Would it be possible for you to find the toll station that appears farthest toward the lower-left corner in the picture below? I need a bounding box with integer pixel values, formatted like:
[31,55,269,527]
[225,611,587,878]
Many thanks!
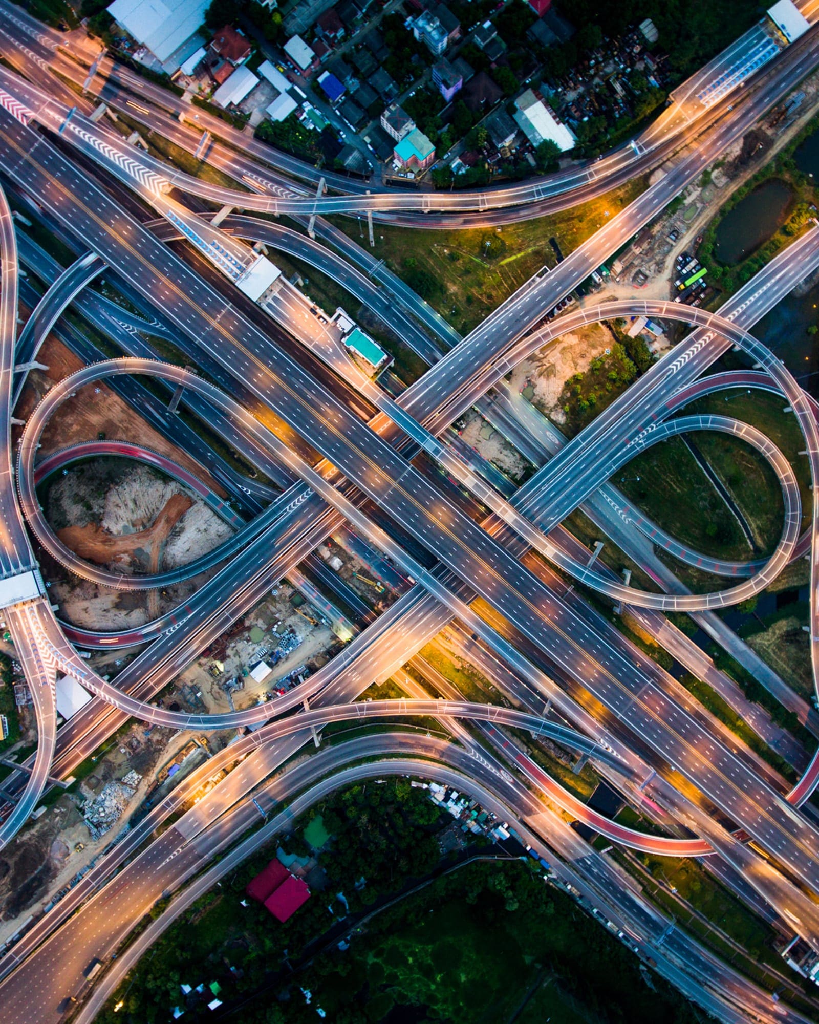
[0,563,46,614]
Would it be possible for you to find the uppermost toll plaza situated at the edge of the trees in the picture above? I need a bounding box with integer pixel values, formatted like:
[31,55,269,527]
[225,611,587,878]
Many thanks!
[755,0,811,53]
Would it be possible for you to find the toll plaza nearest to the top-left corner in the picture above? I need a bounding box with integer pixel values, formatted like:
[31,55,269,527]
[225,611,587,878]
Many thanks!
[233,252,289,311]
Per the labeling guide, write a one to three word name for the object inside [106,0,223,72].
building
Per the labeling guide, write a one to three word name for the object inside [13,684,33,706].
house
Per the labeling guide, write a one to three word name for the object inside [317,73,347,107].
house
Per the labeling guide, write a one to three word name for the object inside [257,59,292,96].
shed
